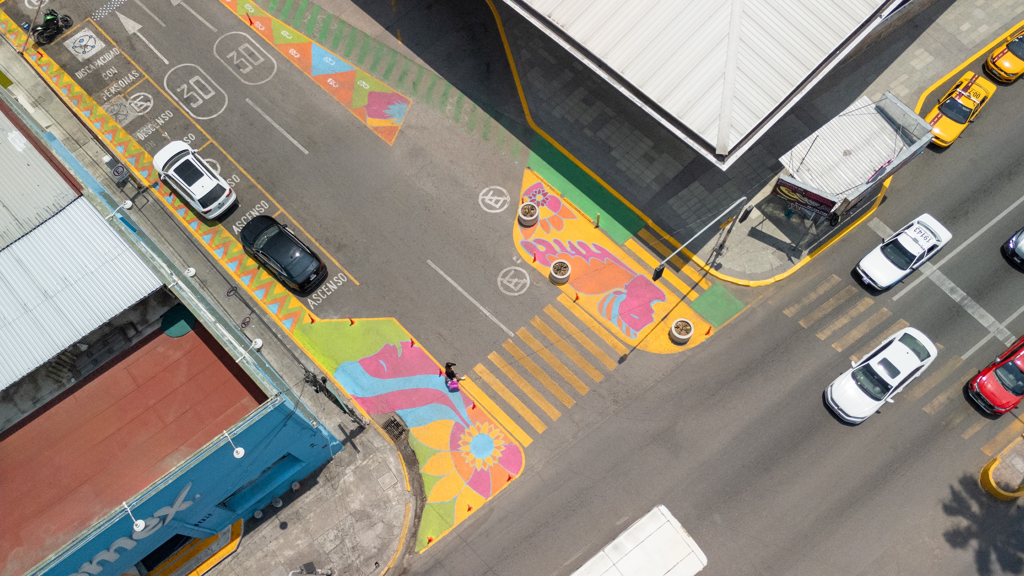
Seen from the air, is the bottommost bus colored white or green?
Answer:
white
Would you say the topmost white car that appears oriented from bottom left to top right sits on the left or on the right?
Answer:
right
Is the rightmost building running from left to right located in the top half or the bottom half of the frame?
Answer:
top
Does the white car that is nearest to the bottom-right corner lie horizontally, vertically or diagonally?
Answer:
diagonally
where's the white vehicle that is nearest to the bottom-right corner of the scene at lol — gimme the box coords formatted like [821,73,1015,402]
[826,325,940,427]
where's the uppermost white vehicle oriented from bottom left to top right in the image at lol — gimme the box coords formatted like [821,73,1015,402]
[853,211,954,296]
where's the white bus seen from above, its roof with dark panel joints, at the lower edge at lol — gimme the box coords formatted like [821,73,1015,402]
[569,506,703,576]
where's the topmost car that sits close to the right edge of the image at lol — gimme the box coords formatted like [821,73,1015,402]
[983,17,1024,84]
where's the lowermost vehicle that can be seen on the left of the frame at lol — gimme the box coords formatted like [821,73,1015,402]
[242,216,330,298]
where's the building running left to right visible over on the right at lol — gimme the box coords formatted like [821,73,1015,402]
[501,0,903,172]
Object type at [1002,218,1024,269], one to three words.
car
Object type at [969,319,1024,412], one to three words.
car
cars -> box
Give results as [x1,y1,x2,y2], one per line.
[242,216,330,298]
[1002,218,1024,269]
[969,319,1024,412]
[826,325,940,427]
[927,69,1001,153]
[156,142,243,228]
[853,211,954,296]
[983,17,1024,84]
